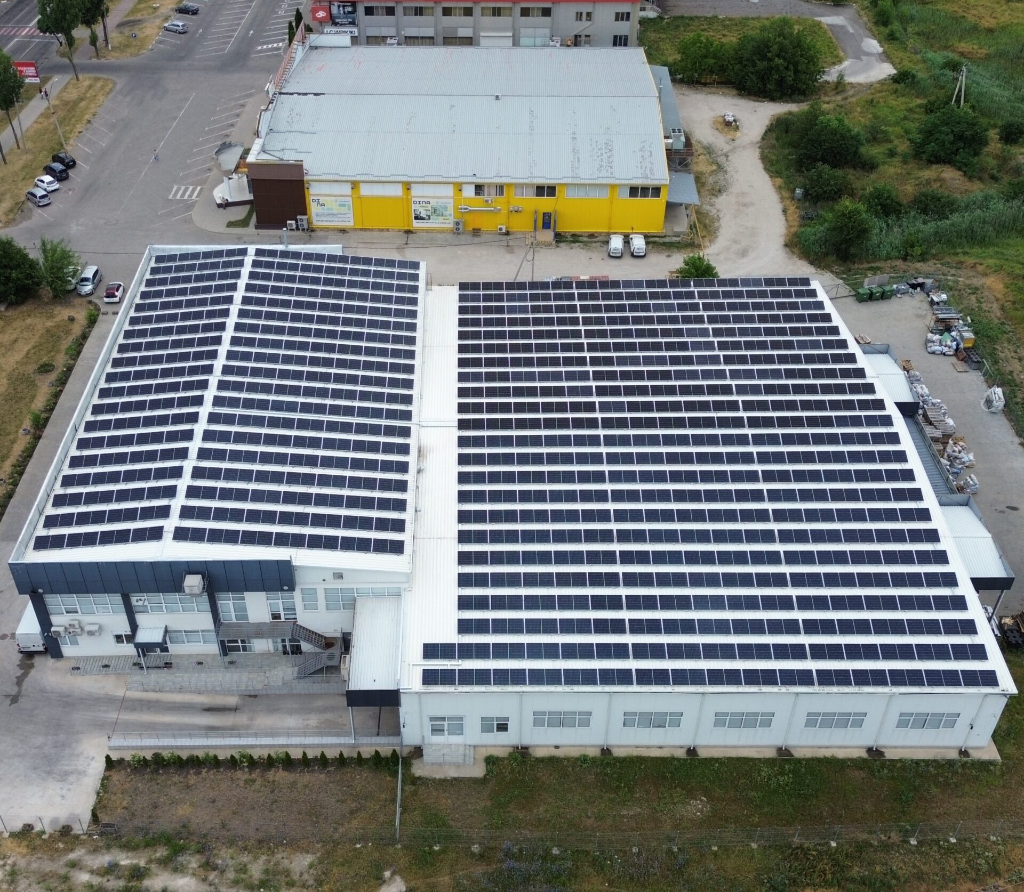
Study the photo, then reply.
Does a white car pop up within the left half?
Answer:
Yes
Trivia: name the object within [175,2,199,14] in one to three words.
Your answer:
vehicle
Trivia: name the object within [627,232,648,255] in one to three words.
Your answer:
vehicle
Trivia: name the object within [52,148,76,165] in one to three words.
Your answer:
car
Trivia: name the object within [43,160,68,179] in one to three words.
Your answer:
car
